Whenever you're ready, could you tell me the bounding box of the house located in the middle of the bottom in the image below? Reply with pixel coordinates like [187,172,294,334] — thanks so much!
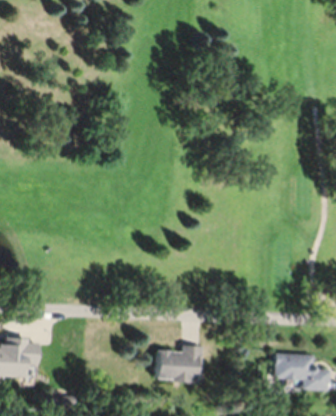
[156,346,203,384]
